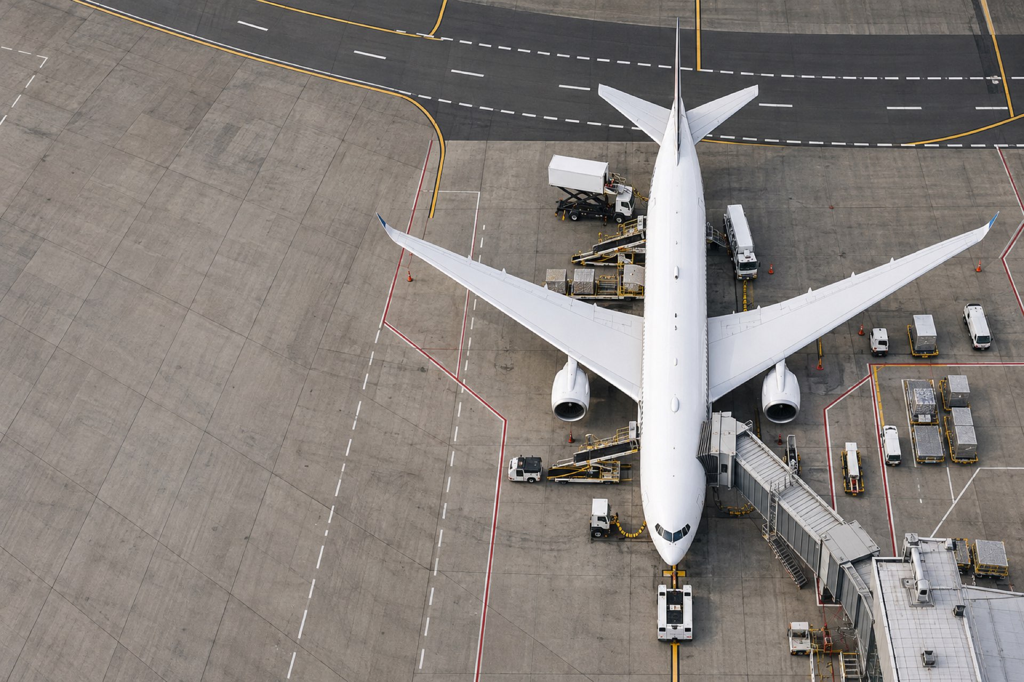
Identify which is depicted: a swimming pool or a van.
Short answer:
van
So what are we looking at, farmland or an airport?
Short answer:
airport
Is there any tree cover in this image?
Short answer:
No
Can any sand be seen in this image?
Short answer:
No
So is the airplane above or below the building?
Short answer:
above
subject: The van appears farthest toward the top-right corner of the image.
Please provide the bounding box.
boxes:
[962,301,994,348]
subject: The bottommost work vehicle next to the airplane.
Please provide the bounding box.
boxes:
[658,586,692,642]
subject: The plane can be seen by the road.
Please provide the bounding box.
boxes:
[378,20,998,564]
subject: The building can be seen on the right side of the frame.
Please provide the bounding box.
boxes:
[872,526,1024,682]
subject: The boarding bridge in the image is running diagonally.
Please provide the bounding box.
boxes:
[699,411,884,665]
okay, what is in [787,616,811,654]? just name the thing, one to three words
work vehicle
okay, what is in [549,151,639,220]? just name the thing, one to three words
truck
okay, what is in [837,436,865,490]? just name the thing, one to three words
trailer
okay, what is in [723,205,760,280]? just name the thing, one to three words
truck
